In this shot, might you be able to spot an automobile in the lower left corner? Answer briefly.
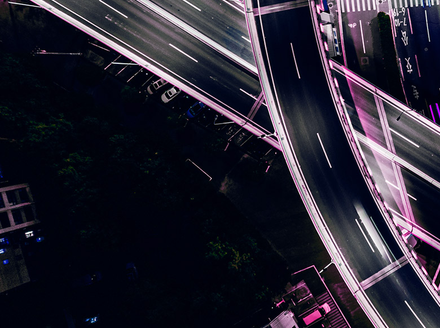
No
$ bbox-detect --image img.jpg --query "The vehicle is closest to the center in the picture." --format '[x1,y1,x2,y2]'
[217,123,240,141]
